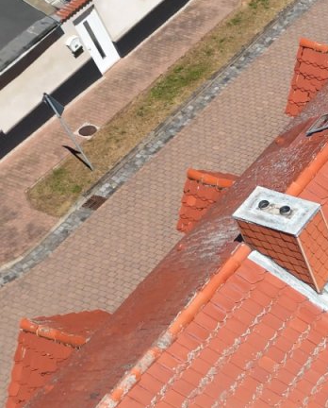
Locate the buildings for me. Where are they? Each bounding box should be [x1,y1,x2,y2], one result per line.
[9,28,328,408]
[0,4,65,80]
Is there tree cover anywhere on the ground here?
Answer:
No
